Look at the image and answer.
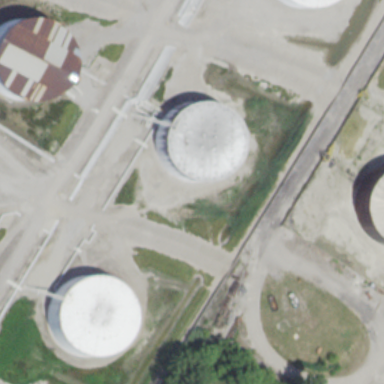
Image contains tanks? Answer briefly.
Yes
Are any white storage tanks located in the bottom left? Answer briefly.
Yes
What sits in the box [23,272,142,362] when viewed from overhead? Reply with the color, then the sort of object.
white storage tank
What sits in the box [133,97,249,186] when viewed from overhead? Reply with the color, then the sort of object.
white storage tank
